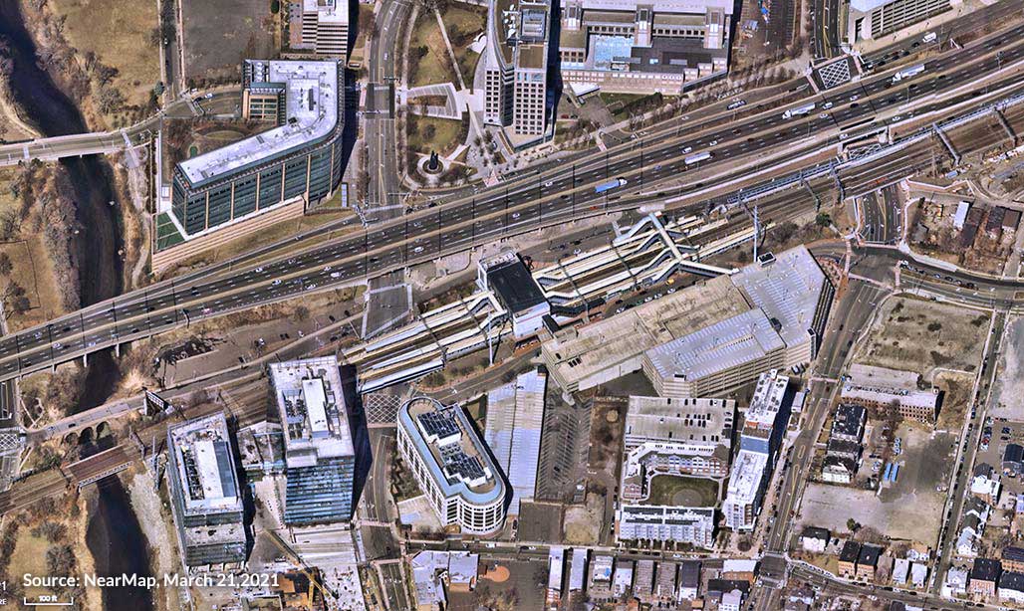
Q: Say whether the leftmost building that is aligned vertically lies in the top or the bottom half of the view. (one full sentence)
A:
The bottom half of the photo is where the leftmost building that is aligned vertically is.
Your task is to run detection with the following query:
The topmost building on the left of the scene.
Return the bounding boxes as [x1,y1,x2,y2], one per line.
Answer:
[302,0,349,57]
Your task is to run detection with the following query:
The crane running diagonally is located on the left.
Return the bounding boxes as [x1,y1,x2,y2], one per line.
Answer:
[262,528,339,611]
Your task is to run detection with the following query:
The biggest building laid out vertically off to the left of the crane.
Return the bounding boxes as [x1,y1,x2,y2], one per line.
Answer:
[167,411,247,574]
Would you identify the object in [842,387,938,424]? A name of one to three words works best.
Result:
building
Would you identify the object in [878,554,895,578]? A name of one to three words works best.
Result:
house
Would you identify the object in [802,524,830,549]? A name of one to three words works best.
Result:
house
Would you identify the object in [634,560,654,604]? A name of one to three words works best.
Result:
building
